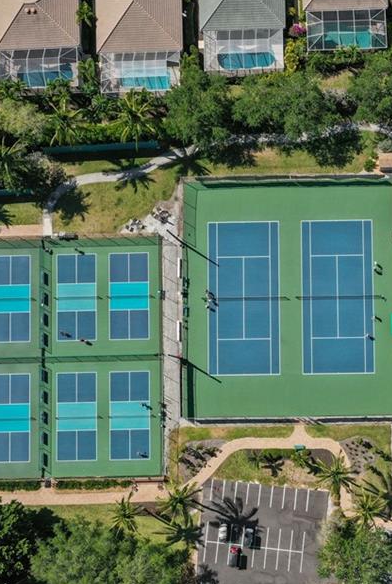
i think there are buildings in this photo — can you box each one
[202,0,285,36]
[0,0,80,55]
[305,0,387,17]
[97,0,182,57]
[379,151,392,171]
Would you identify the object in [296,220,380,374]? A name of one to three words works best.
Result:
tennis court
